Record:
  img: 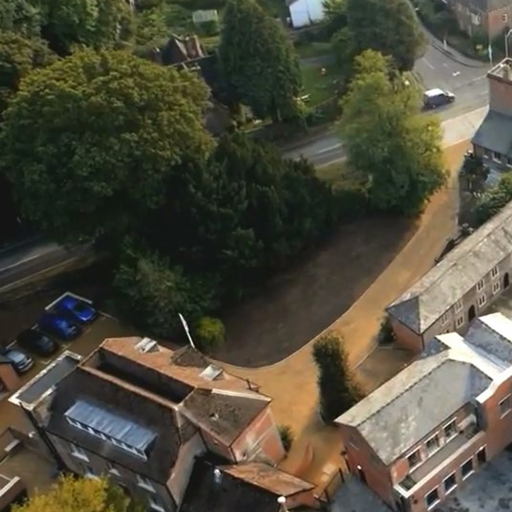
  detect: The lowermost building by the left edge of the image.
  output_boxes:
[0,469,31,512]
